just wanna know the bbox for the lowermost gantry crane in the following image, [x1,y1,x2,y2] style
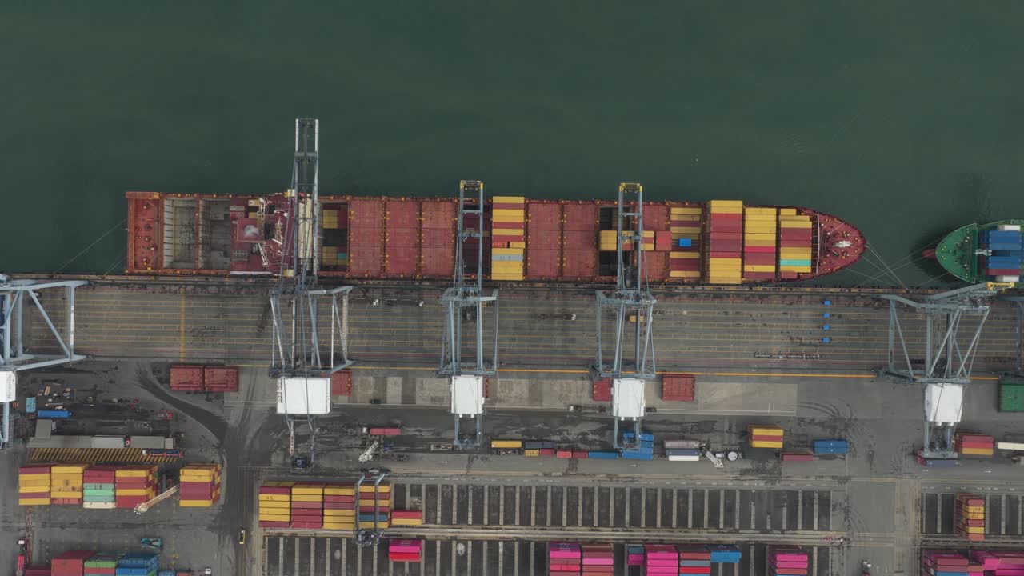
[353,469,389,552]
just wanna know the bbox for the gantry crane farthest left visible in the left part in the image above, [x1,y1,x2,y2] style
[0,278,105,445]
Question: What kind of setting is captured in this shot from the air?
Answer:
port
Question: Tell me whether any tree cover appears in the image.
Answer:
No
